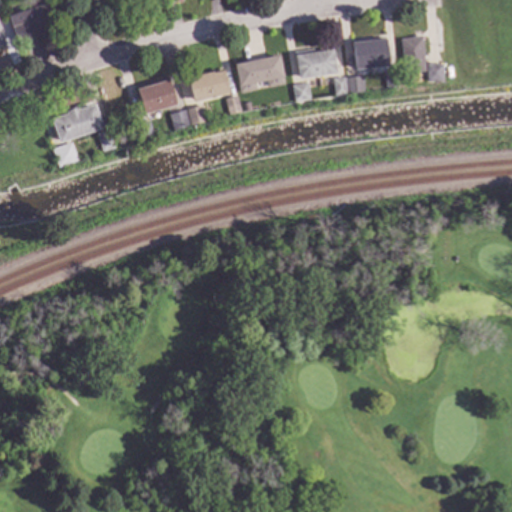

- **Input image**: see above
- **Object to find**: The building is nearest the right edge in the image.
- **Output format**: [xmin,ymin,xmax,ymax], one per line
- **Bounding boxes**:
[428,62,447,84]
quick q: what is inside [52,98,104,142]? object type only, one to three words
house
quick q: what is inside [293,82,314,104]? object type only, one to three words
building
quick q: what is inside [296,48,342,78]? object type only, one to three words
house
